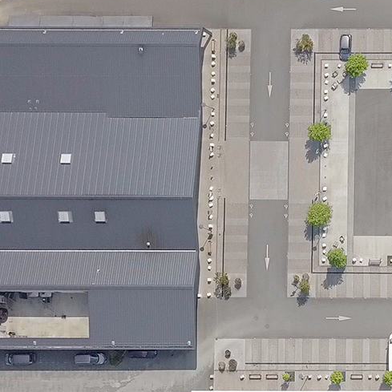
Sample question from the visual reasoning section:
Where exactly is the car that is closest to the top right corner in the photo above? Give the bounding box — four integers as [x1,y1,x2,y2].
[339,35,352,60]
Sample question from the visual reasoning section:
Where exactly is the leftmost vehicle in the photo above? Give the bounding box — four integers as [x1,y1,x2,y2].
[6,352,37,367]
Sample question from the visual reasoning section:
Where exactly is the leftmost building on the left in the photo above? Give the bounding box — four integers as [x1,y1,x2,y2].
[0,27,205,351]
